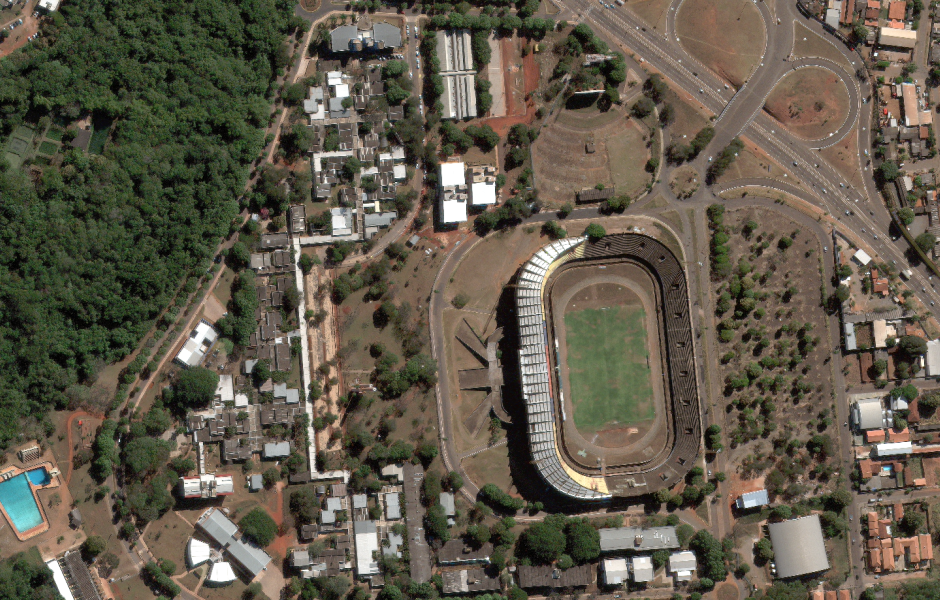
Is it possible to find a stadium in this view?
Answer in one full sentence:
Yes, the picture does show a stadium.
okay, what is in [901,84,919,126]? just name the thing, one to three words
building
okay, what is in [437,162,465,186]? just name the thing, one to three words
building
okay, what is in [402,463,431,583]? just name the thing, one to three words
shed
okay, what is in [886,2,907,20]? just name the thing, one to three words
house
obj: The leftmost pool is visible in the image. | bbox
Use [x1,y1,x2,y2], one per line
[0,461,61,540]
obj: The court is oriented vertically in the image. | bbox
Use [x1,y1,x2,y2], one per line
[487,39,506,118]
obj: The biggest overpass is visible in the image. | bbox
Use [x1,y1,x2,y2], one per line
[711,80,768,146]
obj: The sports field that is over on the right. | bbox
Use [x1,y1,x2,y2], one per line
[551,264,666,467]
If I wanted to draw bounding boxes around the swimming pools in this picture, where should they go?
[0,461,61,540]
[881,464,895,475]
